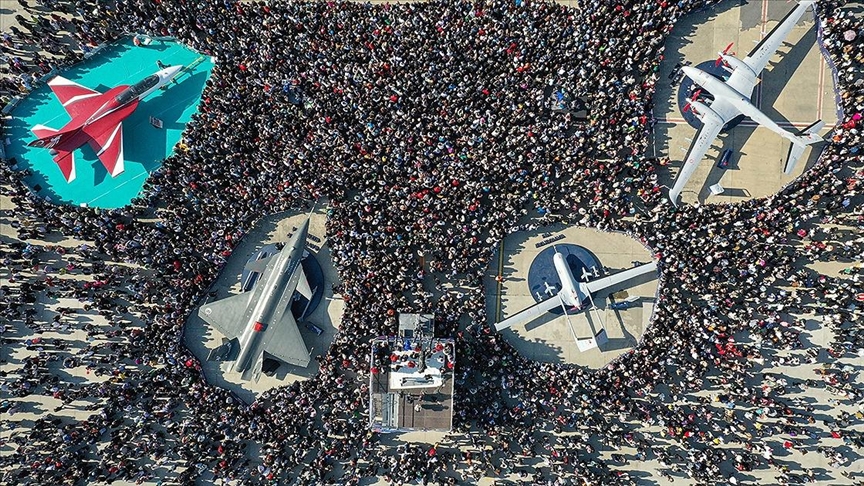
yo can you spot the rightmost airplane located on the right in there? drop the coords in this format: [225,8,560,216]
[672,0,827,208]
